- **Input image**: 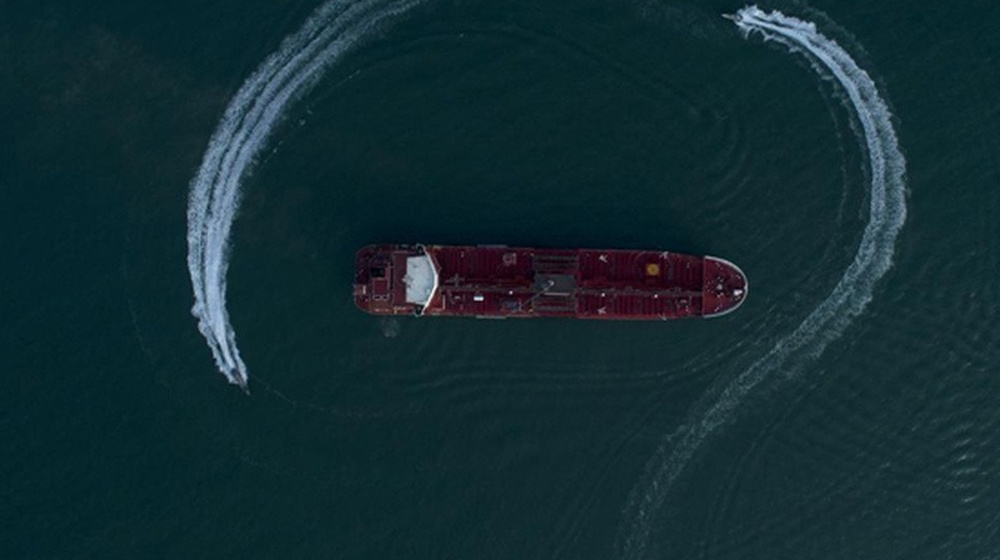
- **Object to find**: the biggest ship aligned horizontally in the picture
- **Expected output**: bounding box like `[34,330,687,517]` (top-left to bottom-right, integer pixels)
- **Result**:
[354,242,749,321]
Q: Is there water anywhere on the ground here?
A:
Yes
